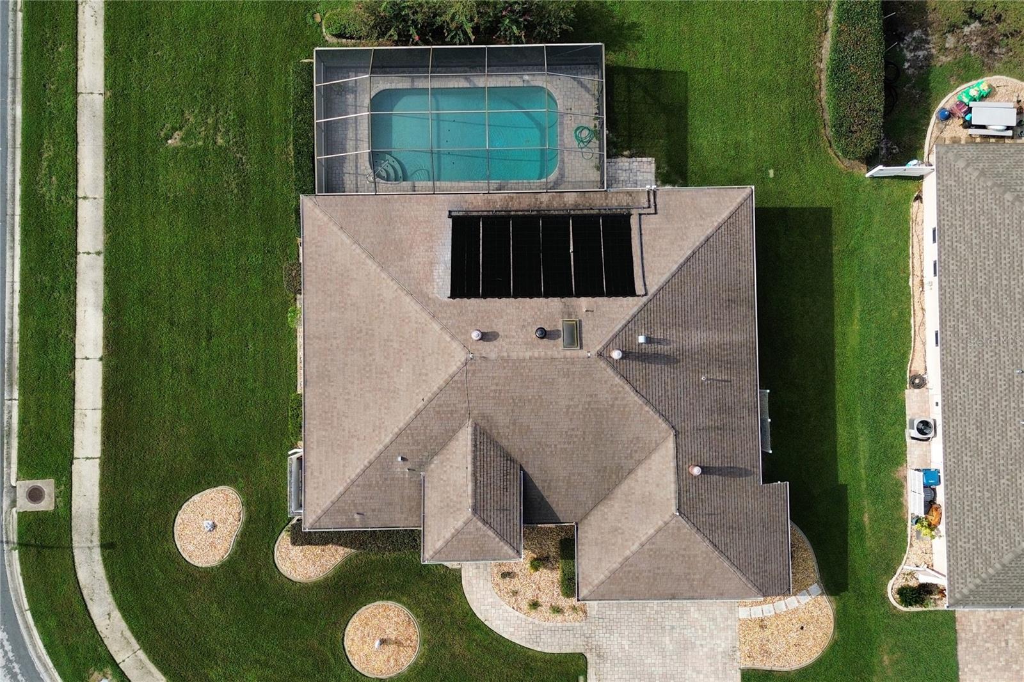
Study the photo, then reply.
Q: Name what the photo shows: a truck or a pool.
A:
pool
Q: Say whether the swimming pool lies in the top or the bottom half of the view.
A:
top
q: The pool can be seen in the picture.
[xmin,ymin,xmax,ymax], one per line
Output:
[364,80,565,188]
